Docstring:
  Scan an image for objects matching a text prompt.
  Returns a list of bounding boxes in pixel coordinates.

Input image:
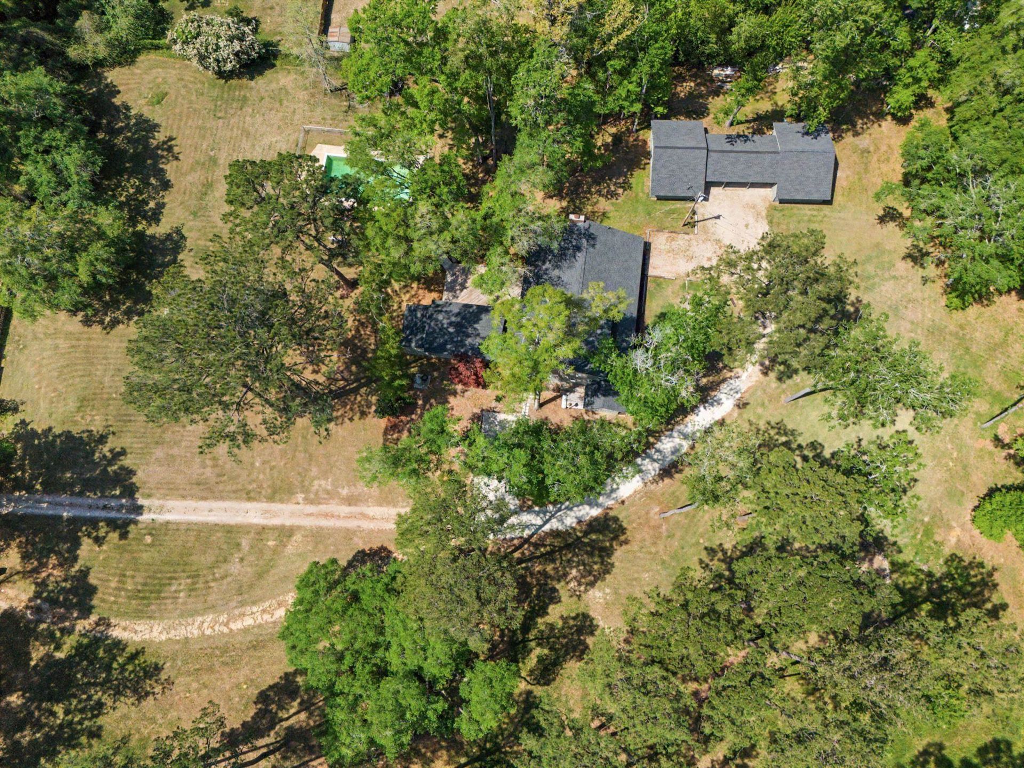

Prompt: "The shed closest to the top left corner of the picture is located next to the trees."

[327,24,354,52]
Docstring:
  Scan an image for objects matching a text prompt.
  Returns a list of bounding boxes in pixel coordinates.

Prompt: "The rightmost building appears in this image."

[648,120,836,206]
